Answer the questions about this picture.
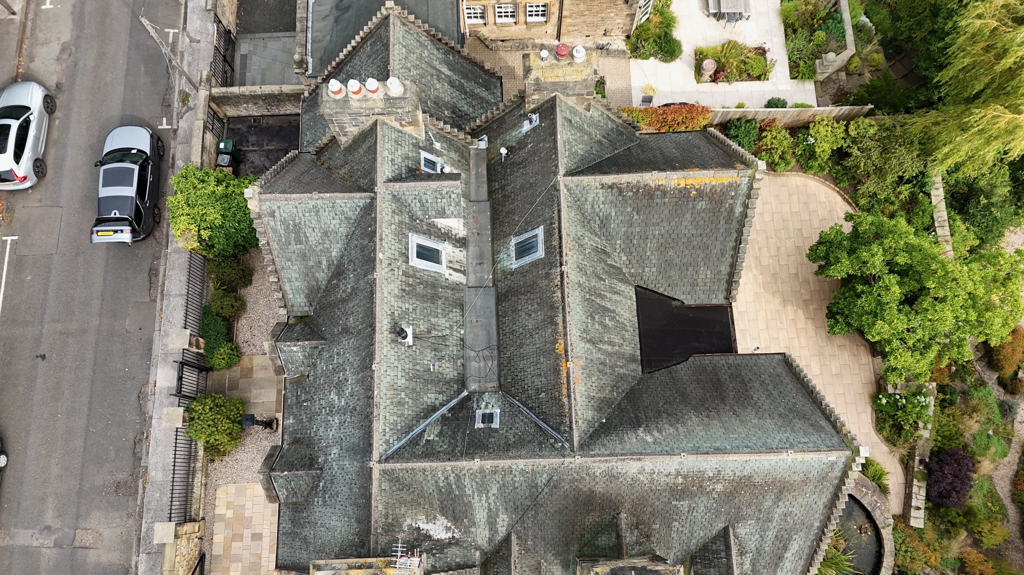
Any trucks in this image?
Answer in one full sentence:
No, no truck can be seen from above.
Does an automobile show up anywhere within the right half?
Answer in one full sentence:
No, there's no automobile to be seen within the right half.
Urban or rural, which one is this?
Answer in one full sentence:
It looks urban.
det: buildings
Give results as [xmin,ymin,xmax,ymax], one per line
[462,0,650,44]
[246,6,867,575]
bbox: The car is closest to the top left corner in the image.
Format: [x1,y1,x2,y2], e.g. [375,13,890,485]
[0,82,56,193]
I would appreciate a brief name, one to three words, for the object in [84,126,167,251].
car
